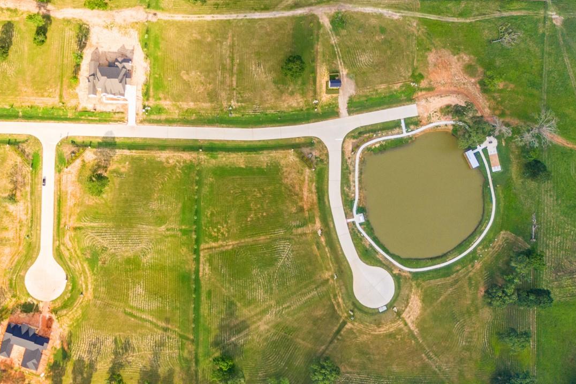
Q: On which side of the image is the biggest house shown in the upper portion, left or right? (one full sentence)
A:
The biggest house shown in the upper portion appears in the left half of the scene.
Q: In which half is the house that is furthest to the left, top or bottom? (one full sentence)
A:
Seen from above, the house that is furthest to the left lies in the bottom half of the view.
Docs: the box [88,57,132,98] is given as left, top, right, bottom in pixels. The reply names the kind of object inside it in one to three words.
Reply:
house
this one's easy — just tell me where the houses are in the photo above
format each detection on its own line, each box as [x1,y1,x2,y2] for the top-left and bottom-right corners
[0,321,54,373]
[88,57,132,98]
